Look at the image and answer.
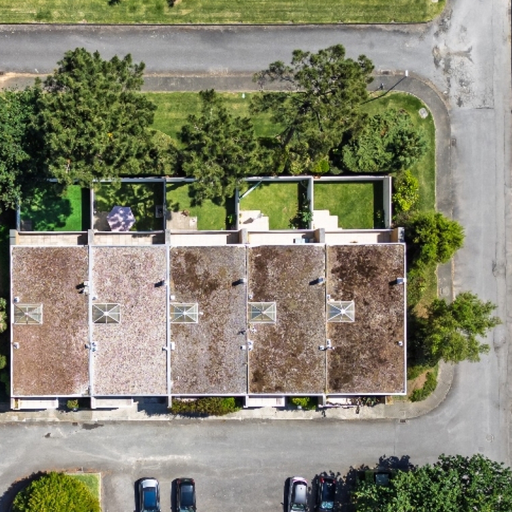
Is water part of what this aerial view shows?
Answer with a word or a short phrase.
No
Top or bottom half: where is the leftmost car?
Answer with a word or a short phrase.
bottom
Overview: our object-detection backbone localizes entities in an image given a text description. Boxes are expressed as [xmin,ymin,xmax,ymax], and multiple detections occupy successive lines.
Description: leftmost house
[10,231,90,409]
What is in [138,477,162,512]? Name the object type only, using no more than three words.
car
